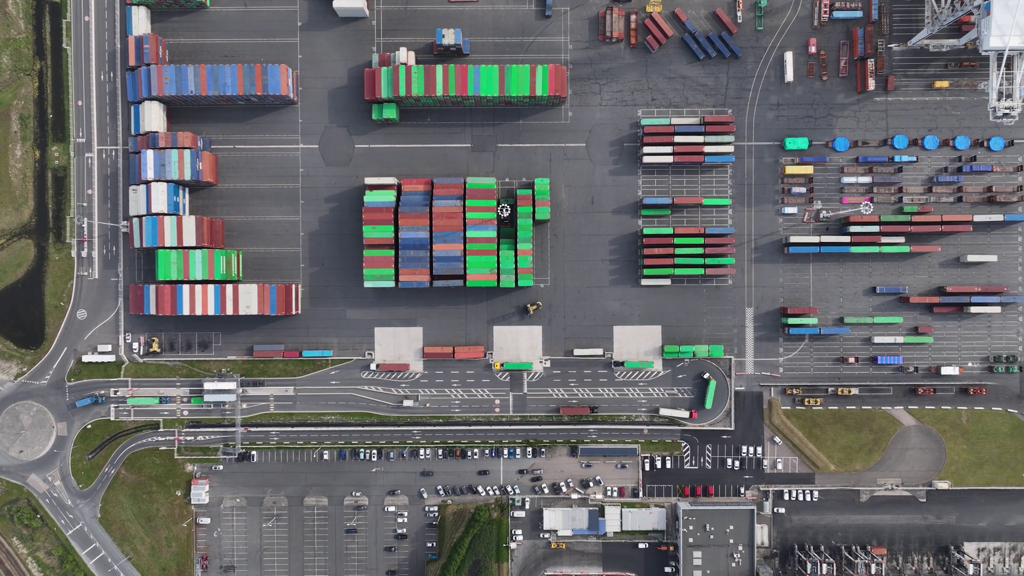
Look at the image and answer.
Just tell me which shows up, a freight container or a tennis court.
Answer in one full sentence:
Of the two, only a freight container appears.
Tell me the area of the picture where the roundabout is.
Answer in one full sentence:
The roundabout appears toward the bottom left of the photo.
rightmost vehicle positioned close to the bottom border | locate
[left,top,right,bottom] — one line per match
[951,546,986,576]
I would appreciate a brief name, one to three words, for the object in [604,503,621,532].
building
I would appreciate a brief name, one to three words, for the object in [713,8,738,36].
shipping container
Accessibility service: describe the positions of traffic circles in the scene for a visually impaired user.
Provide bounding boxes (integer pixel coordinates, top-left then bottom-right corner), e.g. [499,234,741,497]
[0,376,80,485]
